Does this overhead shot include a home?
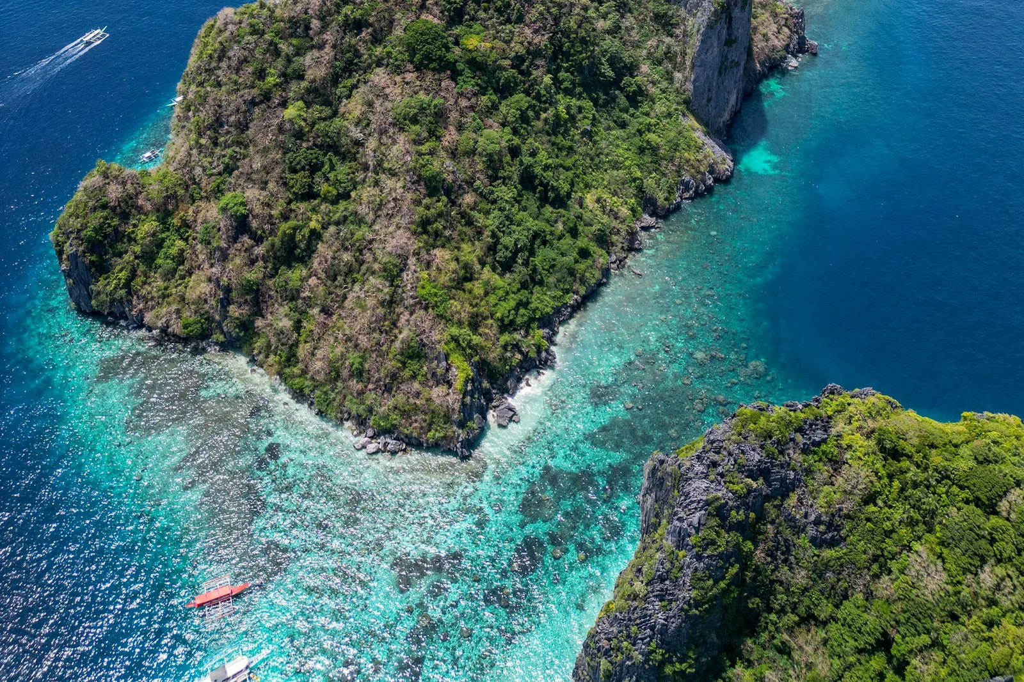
No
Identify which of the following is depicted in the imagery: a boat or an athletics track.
boat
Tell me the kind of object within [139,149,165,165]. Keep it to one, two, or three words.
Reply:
boat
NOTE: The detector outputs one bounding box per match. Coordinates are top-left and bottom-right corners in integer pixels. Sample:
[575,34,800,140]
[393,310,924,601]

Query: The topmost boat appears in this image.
[77,26,110,45]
